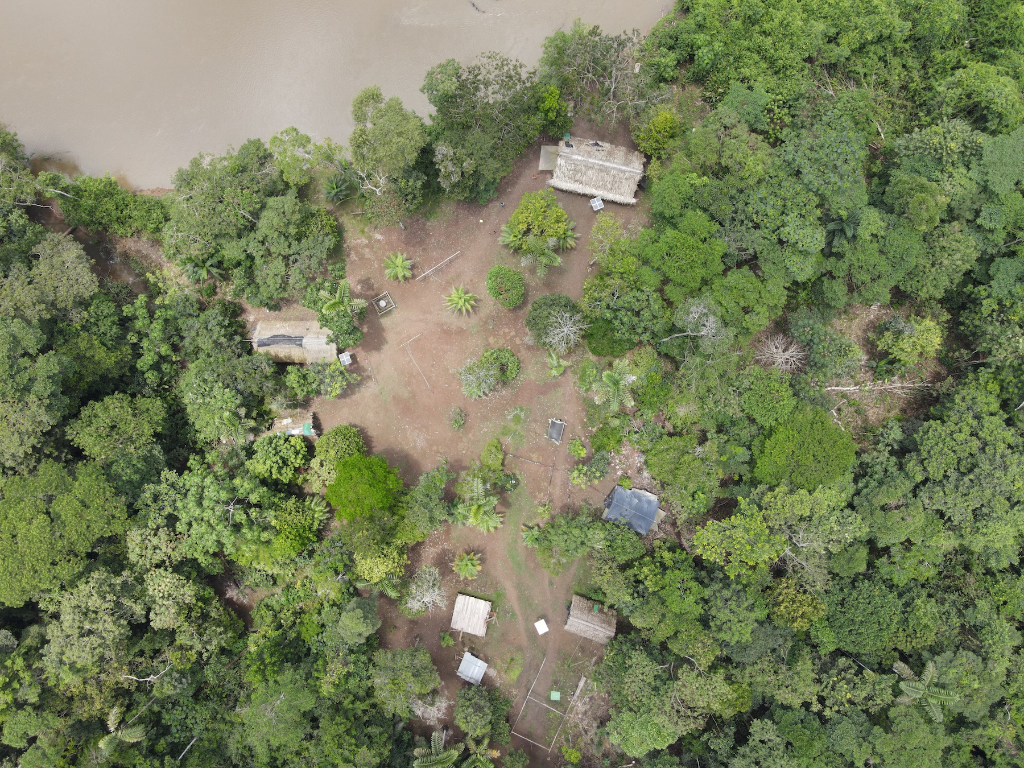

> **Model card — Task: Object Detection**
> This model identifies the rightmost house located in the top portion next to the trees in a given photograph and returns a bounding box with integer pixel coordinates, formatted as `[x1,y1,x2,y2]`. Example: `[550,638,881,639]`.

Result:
[543,137,649,205]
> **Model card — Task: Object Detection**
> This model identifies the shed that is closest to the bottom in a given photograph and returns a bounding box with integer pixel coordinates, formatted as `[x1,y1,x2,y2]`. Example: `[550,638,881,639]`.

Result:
[457,644,488,684]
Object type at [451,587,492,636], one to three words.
shed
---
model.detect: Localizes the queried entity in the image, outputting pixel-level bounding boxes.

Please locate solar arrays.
[589,196,603,211]
[338,352,352,365]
